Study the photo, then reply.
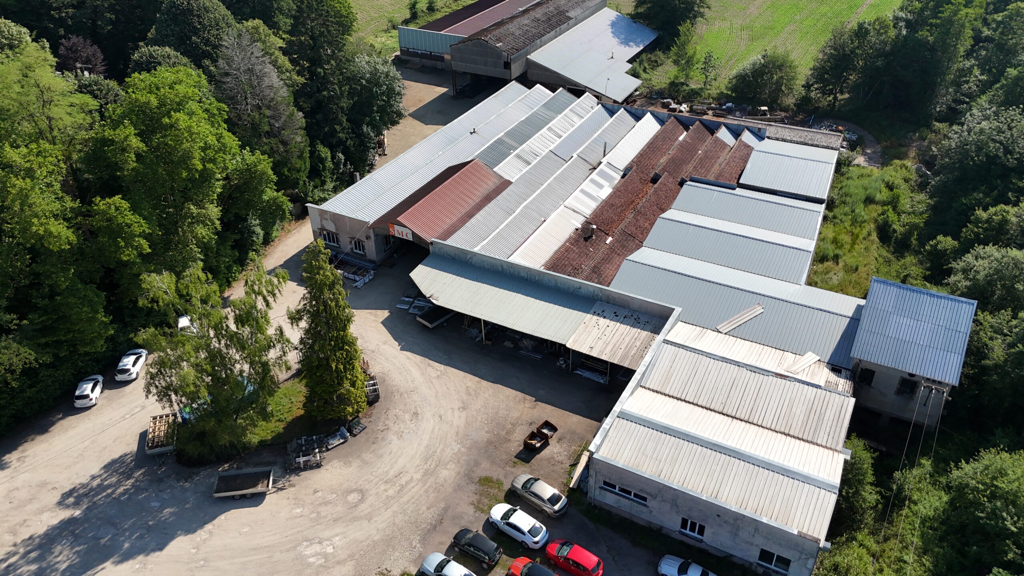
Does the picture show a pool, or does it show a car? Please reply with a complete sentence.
This aerial view contains a car.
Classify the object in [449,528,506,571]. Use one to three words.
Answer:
car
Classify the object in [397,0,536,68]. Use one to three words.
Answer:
shed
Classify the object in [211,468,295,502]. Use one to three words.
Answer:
trailer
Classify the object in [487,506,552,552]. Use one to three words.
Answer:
car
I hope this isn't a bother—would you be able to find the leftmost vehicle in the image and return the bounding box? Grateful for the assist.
[70,377,108,411]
